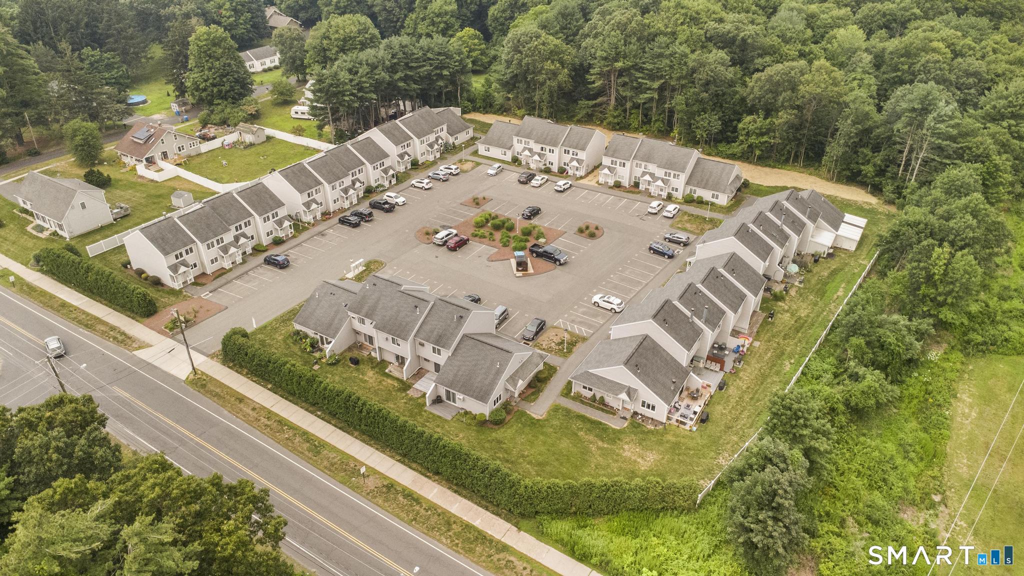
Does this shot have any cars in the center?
Yes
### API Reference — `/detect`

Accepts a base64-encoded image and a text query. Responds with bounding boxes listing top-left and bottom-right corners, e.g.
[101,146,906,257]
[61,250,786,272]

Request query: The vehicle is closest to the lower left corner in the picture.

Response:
[40,335,64,357]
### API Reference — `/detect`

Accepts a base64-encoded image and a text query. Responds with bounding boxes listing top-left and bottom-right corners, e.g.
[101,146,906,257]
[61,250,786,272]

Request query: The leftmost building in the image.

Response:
[11,173,118,239]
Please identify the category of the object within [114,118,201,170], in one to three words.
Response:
house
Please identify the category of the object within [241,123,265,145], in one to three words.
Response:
shed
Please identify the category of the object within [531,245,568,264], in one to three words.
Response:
vehicle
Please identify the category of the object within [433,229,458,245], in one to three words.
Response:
car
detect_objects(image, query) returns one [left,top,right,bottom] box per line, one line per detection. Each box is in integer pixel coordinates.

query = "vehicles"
[426,169,450,182]
[531,245,568,264]
[529,175,550,186]
[261,252,290,268]
[519,316,548,340]
[646,240,677,258]
[437,163,461,175]
[485,163,505,175]
[409,177,433,190]
[348,207,375,222]
[520,205,543,219]
[460,291,482,303]
[516,170,537,183]
[661,203,680,218]
[40,335,64,357]
[368,197,397,213]
[433,229,458,245]
[591,294,625,311]
[382,190,408,205]
[494,303,510,320]
[553,179,573,192]
[646,199,665,213]
[445,234,470,250]
[336,213,362,228]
